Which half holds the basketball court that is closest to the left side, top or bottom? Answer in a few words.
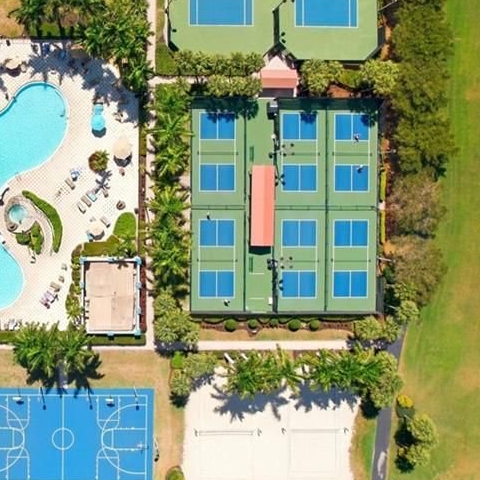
bottom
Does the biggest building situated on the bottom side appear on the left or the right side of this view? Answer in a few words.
left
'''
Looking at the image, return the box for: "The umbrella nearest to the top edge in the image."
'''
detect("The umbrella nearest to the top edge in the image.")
[4,55,20,71]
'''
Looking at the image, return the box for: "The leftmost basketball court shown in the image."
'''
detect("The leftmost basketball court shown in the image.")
[0,388,154,480]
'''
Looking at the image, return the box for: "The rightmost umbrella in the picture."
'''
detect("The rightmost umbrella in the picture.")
[113,139,132,157]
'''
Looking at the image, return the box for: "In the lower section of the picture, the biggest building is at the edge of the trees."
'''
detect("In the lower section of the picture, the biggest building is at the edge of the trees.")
[81,256,142,336]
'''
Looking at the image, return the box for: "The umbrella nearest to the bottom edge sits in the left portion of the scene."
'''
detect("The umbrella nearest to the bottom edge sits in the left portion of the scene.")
[88,223,104,238]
